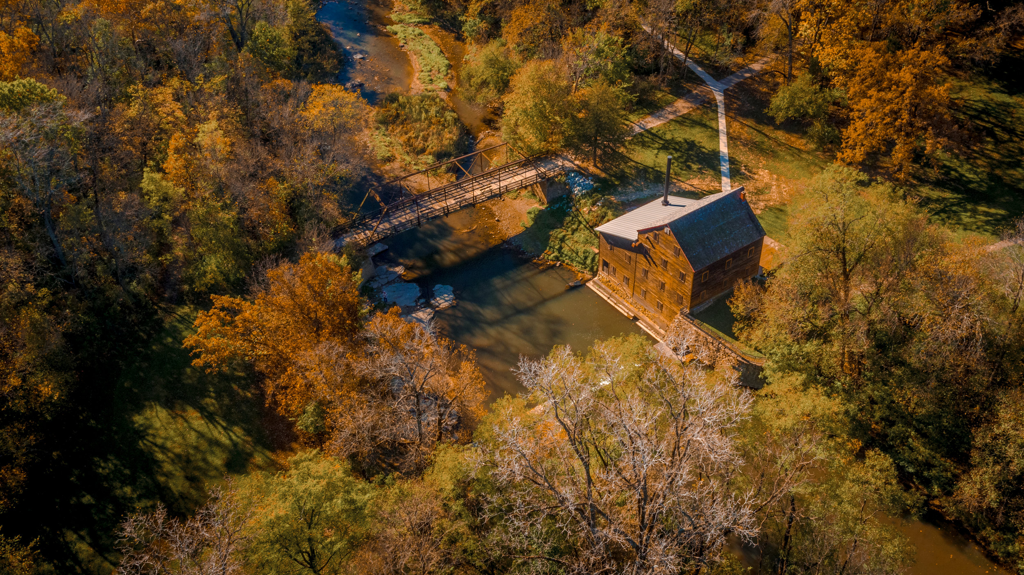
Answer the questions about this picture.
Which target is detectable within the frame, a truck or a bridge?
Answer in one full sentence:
There is a bridge in the scene.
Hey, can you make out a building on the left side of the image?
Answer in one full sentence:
No, no building is visible on the left side of the image.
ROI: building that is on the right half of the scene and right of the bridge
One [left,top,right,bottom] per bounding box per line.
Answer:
[596,197,769,343]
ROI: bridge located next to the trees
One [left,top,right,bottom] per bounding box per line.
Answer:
[322,142,572,242]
